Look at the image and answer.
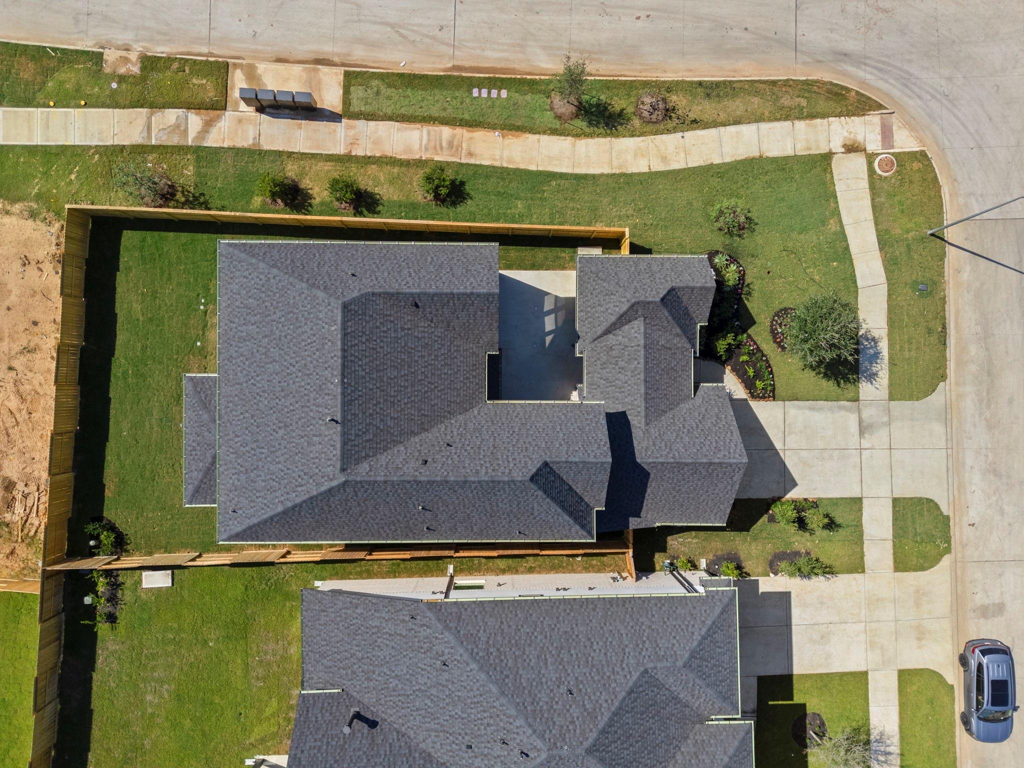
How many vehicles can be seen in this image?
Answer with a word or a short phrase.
one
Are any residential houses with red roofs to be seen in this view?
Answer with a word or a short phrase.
No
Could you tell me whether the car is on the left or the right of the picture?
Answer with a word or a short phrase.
right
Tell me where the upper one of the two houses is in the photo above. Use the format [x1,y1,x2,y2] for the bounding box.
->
[183,240,747,544]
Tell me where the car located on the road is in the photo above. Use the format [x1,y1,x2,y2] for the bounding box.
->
[956,636,1016,742]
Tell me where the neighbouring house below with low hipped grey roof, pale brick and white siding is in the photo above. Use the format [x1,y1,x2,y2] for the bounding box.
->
[292,567,756,768]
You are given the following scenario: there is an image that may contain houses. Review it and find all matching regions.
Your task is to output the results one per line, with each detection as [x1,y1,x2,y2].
[183,240,747,544]
[292,567,756,768]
